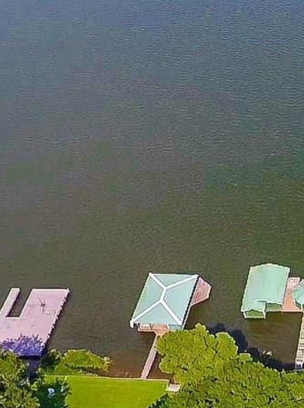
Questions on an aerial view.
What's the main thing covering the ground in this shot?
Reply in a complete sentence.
The scene is dominated by water.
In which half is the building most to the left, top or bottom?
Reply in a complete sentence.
You can find the building most to the left in the bottom half.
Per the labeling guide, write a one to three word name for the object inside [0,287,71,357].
pier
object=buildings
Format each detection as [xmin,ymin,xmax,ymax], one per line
[131,272,198,337]
[239,262,290,327]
